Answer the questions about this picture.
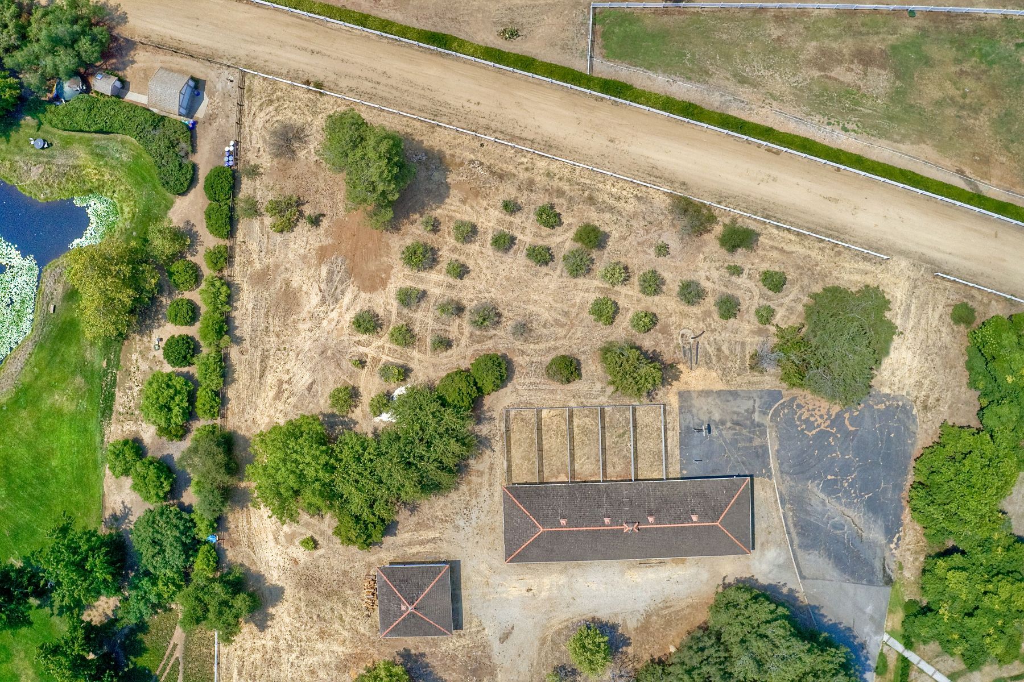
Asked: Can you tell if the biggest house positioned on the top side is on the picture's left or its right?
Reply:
left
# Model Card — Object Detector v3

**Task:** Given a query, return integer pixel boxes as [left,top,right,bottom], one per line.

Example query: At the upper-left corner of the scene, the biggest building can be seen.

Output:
[147,65,193,118]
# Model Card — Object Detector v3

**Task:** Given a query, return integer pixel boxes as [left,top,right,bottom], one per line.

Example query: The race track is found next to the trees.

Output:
[36,0,1024,303]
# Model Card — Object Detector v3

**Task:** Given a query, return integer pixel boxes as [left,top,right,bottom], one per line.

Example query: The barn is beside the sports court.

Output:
[502,476,753,564]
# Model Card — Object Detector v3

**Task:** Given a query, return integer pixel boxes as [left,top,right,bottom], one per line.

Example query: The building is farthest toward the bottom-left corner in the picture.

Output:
[376,562,453,638]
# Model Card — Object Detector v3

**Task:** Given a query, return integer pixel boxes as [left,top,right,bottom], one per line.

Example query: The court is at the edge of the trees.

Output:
[679,390,783,479]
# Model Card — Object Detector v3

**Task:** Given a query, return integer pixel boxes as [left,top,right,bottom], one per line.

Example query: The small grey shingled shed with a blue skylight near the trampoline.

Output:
[91,73,121,97]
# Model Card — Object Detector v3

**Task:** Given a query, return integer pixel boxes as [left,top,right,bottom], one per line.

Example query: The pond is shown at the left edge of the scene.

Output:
[0,181,115,366]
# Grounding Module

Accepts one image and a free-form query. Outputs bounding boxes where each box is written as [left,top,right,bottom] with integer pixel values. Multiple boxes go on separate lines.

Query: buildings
[502,476,753,564]
[376,562,453,638]
[147,65,193,118]
[91,73,121,97]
